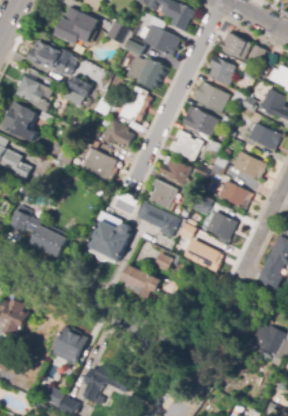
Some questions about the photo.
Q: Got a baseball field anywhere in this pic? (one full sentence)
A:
No, the frame has no baseball field in it.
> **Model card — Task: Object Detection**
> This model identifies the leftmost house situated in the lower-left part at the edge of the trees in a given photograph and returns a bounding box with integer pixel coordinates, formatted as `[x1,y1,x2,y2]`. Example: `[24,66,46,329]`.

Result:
[0,300,26,336]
